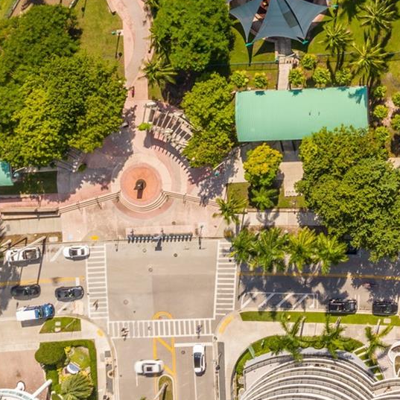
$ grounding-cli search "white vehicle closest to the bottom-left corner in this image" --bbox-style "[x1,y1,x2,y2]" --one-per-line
[10,306,52,327]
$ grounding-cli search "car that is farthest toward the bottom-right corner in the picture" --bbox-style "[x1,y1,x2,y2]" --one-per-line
[371,302,399,317]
